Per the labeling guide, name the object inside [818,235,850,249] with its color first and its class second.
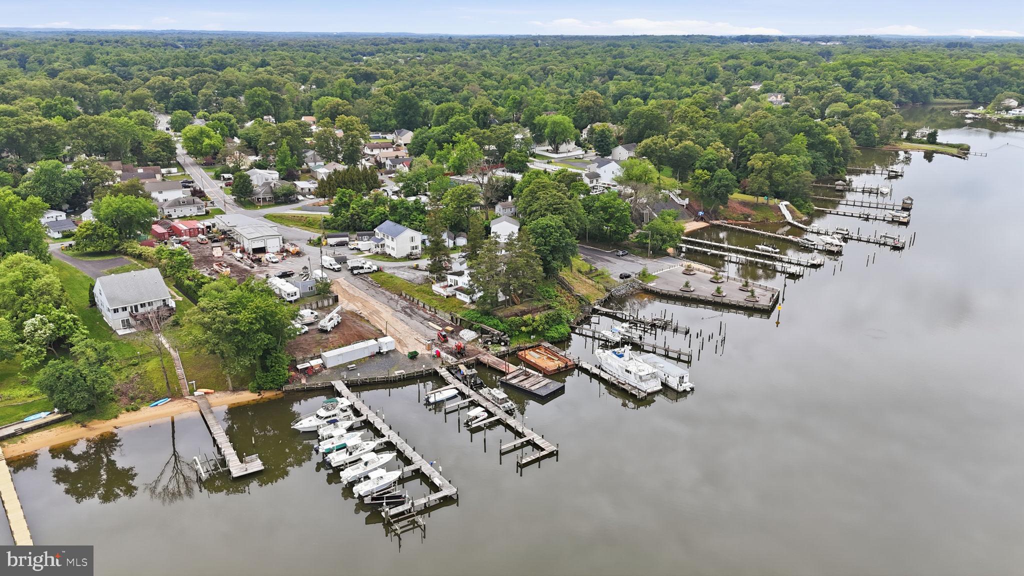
white boat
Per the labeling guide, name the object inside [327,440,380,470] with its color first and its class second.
white boat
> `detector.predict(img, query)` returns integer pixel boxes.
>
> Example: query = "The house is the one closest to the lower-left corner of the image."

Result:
[100,268,178,333]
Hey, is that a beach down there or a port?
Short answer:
port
